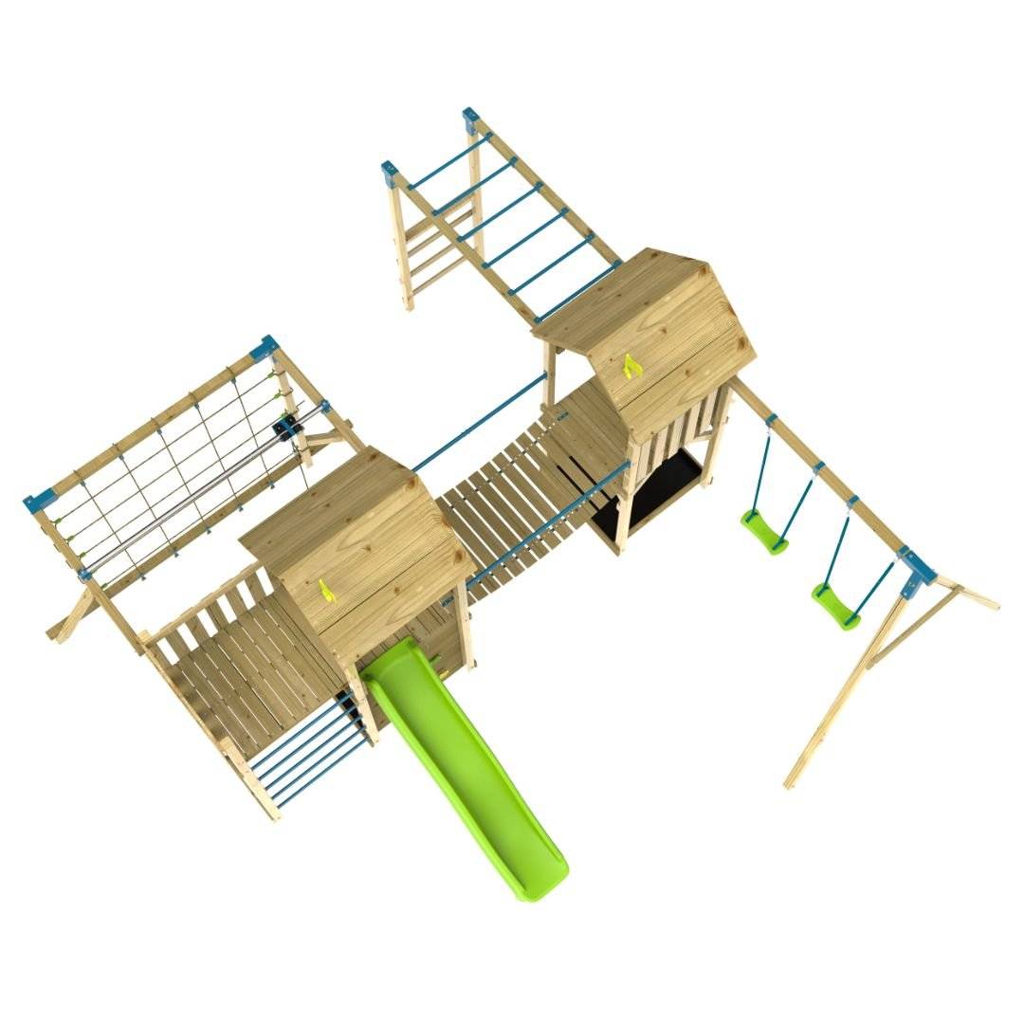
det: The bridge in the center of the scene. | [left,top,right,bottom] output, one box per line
[416,375,630,603]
